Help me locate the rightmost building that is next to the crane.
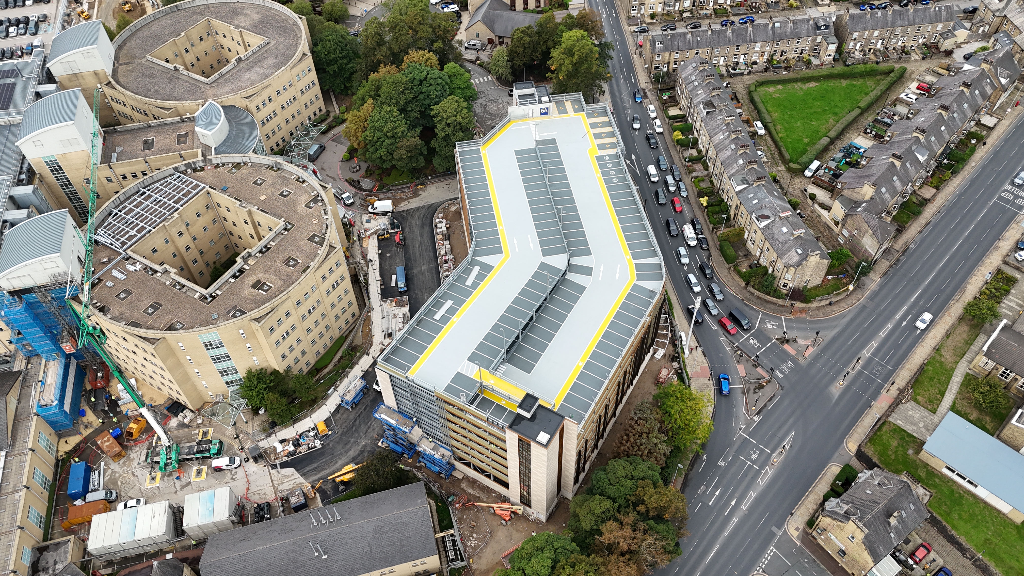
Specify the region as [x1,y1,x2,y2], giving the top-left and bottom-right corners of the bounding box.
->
[375,72,664,527]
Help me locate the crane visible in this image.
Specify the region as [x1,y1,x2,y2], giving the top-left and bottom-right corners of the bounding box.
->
[65,87,224,487]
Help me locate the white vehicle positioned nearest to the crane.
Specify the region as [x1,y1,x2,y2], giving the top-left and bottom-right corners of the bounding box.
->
[207,454,243,473]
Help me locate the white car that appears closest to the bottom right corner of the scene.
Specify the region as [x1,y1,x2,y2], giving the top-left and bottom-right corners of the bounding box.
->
[915,310,933,330]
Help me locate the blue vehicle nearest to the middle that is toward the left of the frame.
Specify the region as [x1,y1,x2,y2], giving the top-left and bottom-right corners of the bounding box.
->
[395,262,408,292]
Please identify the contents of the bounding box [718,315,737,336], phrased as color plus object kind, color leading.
red car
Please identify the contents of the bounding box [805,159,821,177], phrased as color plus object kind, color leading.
white car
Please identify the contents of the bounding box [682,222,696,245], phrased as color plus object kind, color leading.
white vehicle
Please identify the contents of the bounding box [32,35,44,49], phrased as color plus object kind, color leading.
white vehicle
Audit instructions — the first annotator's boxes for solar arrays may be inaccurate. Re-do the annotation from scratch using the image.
[0,83,16,110]
[0,69,19,79]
